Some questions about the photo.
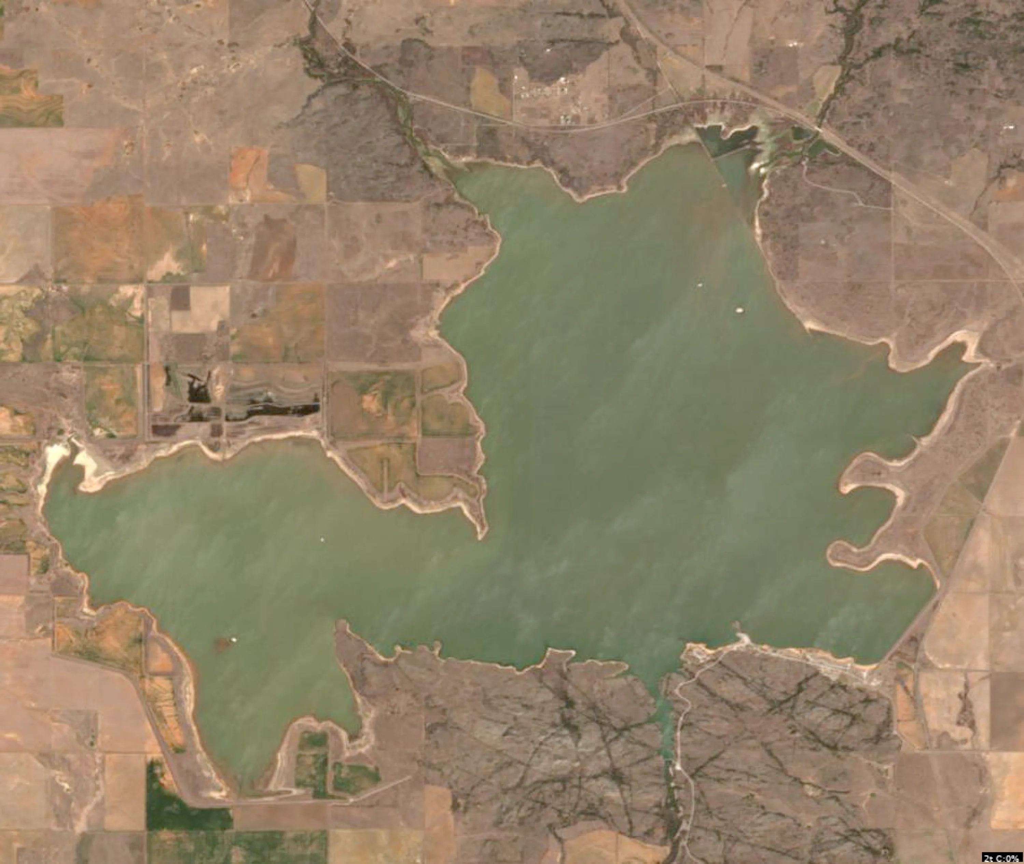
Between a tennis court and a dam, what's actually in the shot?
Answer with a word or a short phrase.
dam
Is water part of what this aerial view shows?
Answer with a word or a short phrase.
Yes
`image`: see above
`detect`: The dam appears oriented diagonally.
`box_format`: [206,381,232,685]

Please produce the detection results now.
[878,578,949,665]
